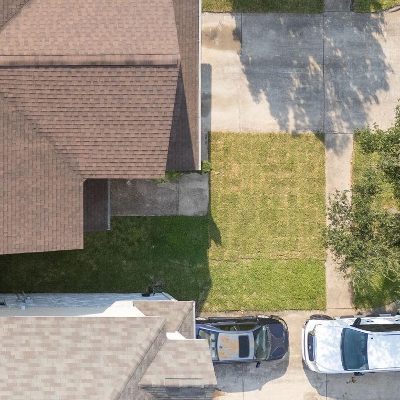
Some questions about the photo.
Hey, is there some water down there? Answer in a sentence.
No, no water is visible.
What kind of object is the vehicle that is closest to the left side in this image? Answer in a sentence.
The vehicle that is closest to the left side is an automobile.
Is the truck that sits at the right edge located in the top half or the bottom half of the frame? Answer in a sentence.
Seen from above, the truck that sits at the right edge lies in the bottom half of the view.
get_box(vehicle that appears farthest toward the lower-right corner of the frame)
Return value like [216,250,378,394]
[299,318,400,381]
